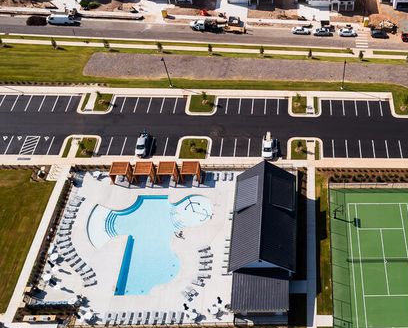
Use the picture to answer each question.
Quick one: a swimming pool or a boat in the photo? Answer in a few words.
swimming pool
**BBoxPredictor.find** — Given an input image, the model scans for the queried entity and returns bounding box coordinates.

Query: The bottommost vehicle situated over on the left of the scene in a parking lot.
[134,130,151,154]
